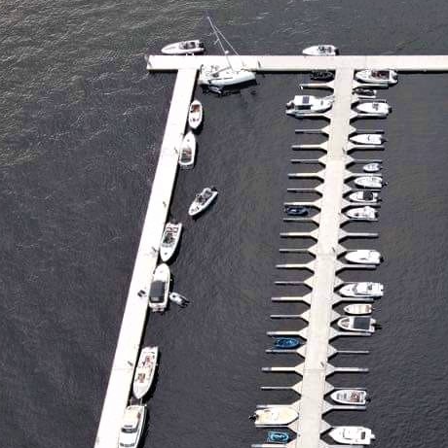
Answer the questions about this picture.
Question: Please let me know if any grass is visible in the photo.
No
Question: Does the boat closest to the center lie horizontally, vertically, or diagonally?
diagonally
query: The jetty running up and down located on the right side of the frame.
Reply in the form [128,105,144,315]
[297,69,355,448]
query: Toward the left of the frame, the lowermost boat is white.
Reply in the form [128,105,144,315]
[119,401,153,448]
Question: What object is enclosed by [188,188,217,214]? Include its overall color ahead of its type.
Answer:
white boat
